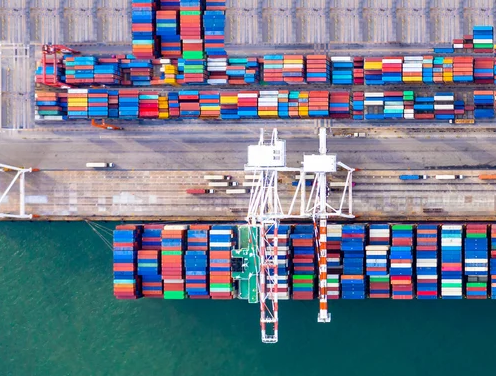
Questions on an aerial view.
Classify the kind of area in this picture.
port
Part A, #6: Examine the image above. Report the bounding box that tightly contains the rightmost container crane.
[304,128,362,323]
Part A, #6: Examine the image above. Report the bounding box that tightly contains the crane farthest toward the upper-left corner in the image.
[42,43,79,89]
